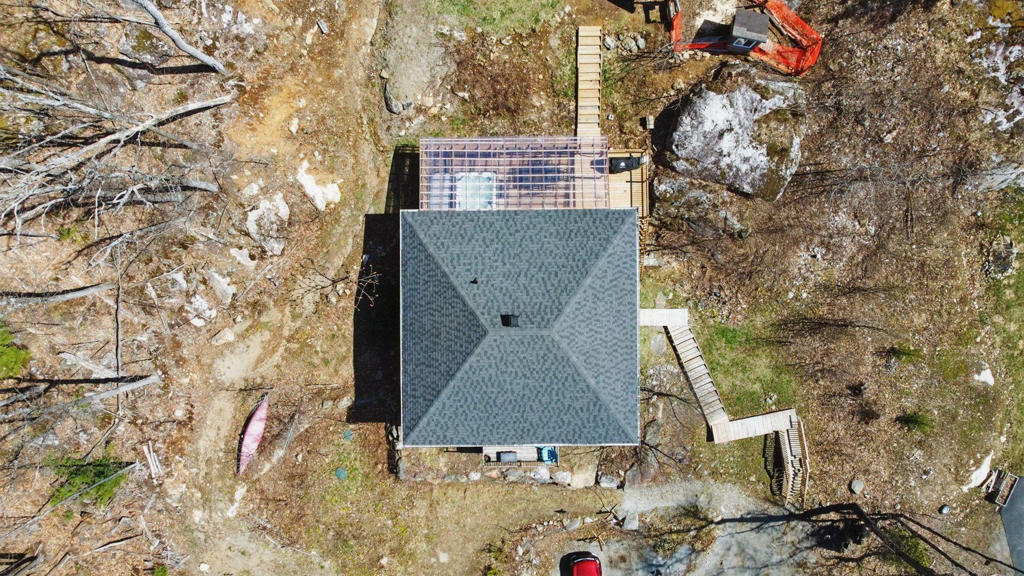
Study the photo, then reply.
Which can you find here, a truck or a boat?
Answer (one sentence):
Looking from above, you can make out a boat.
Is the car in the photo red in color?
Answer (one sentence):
Yes, the car is red.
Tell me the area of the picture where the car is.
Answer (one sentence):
Look in the bottom portion of the view to spot the car.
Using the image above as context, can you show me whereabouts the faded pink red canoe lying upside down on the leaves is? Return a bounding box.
[235,395,267,476]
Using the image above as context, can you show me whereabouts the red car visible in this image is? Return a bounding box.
[569,551,601,576]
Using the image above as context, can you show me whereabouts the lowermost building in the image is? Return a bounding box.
[401,208,639,446]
